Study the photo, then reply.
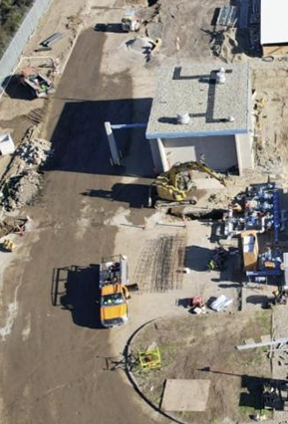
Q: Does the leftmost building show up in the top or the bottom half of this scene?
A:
top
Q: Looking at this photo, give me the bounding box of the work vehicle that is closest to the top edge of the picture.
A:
[120,11,140,31]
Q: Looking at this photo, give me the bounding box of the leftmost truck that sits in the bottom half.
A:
[92,246,130,323]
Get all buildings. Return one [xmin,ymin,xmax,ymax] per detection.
[147,61,254,181]
[254,0,288,57]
